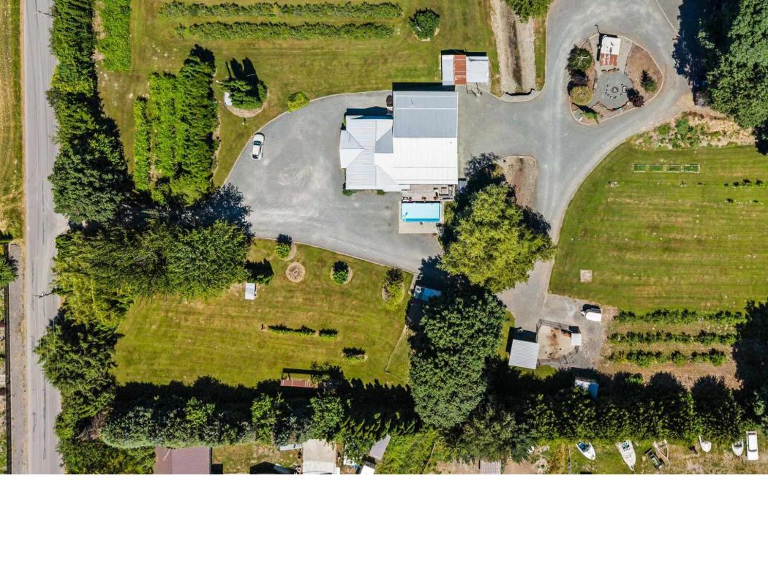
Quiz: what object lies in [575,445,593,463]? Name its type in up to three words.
boat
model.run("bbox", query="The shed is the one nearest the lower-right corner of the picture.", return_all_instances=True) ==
[574,377,599,397]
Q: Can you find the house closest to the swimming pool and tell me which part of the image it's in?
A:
top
